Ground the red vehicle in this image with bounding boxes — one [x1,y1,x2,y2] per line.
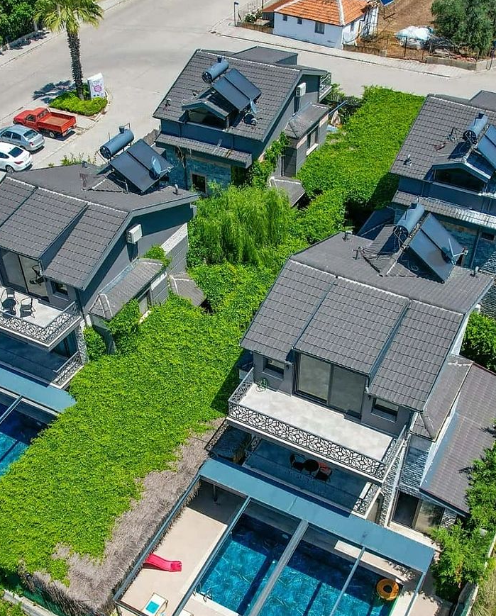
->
[12,106,73,137]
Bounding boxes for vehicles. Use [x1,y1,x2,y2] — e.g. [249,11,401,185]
[12,106,73,137]
[0,123,44,152]
[0,144,31,173]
